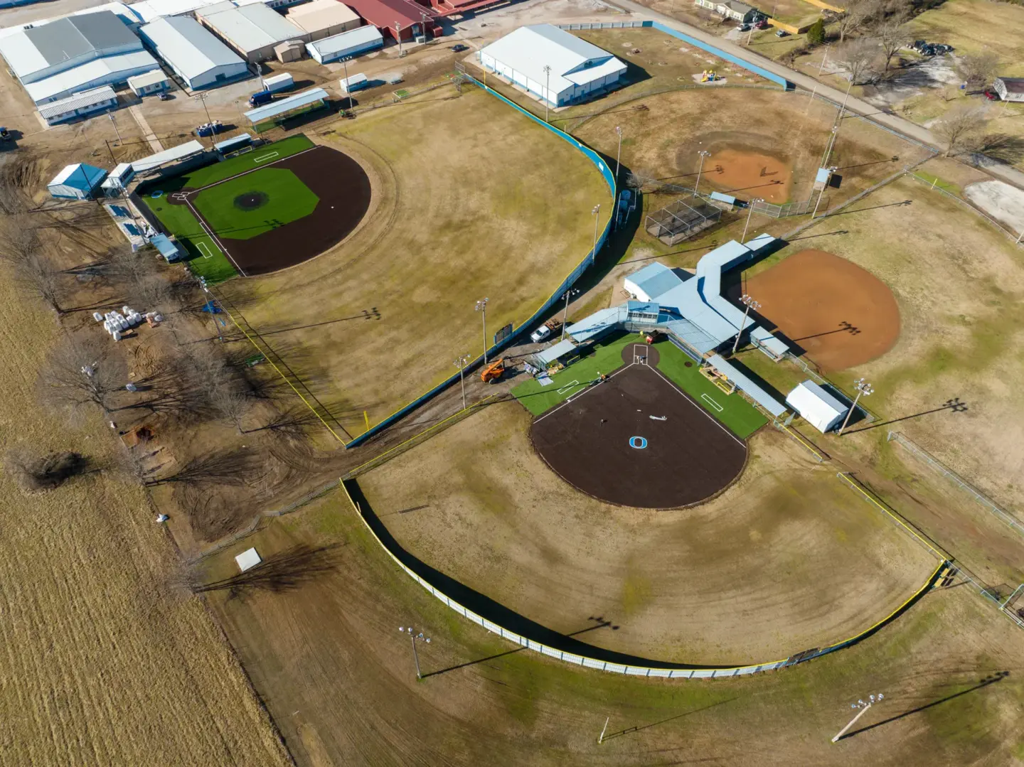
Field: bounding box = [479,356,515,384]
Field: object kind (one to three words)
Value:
work vehicle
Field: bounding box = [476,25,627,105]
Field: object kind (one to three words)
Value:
building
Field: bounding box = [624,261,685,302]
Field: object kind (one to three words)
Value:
building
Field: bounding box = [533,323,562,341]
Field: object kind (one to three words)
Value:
vehicle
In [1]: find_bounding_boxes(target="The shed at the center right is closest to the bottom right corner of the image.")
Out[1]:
[786,378,850,433]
